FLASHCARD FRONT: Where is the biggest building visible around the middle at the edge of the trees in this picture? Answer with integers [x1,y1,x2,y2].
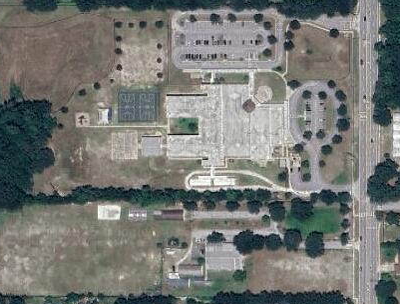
[166,83,287,167]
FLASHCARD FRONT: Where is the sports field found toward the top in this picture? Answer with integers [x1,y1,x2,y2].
[0,14,116,104]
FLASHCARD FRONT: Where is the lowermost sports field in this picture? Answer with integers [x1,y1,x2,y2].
[0,205,161,296]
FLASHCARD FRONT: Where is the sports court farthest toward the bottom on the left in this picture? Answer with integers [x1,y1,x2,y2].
[111,131,138,159]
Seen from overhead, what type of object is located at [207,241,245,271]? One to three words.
building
